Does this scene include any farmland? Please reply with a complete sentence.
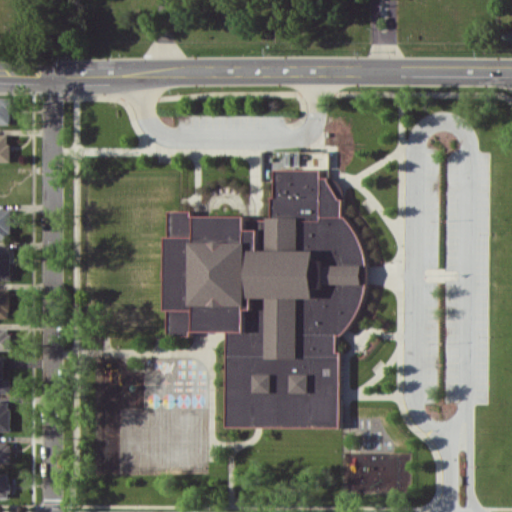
No, farmland can't be seen anywhere here.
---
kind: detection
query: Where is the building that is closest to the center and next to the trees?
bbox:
[162,171,366,428]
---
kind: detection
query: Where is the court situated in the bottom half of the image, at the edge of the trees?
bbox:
[120,358,208,476]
